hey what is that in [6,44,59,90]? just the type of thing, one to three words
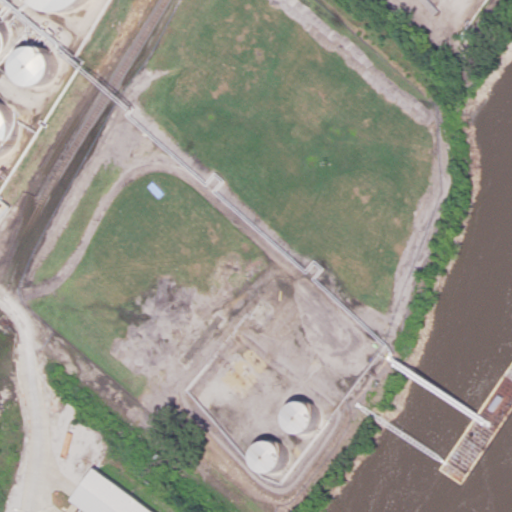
storage tank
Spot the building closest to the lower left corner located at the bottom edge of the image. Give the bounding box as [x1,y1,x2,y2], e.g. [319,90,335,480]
[69,467,148,512]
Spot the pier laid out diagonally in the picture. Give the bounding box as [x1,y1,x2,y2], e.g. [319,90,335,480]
[440,364,512,485]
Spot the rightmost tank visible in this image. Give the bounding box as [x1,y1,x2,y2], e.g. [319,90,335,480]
[278,397,322,436]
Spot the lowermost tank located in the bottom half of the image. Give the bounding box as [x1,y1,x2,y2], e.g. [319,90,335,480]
[245,436,289,474]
